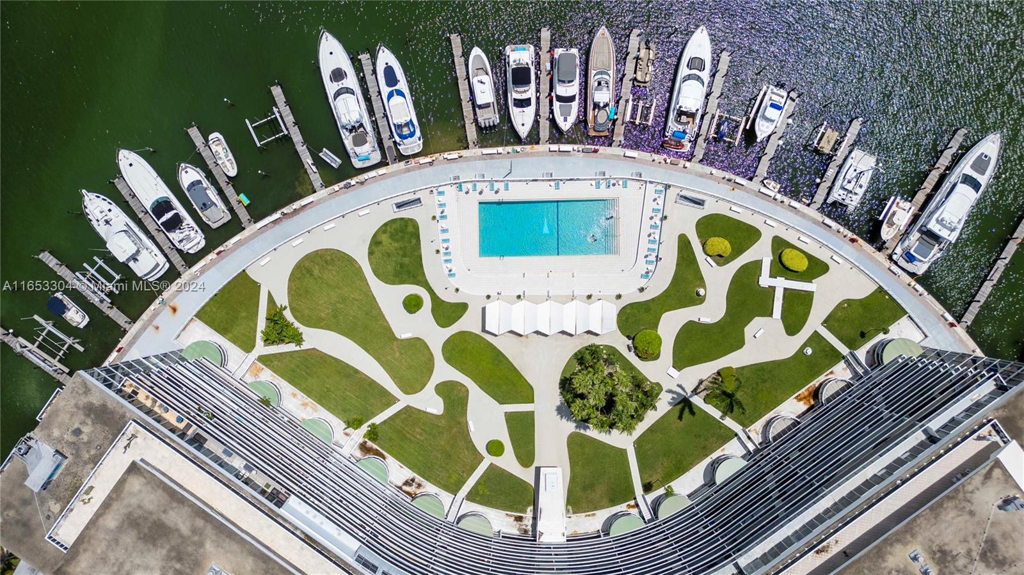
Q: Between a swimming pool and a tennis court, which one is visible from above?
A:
swimming pool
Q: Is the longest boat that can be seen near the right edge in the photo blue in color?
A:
No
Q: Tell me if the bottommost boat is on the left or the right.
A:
left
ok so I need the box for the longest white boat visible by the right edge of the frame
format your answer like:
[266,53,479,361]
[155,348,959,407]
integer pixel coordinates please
[888,132,1005,276]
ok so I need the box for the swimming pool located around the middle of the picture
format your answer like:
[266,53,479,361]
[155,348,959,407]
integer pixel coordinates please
[433,180,666,297]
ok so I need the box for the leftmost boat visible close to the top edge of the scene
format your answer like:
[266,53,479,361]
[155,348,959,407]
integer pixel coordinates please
[317,28,379,173]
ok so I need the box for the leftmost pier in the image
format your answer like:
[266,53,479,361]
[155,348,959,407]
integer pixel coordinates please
[0,322,75,385]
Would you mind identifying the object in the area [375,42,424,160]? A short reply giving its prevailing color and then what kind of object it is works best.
white boat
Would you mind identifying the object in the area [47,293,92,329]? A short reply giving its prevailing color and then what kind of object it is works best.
white boat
